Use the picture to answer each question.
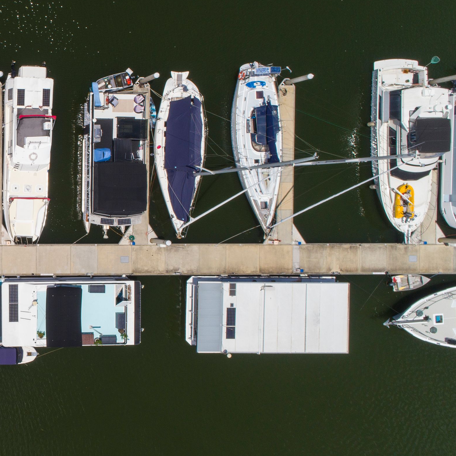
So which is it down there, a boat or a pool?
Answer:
boat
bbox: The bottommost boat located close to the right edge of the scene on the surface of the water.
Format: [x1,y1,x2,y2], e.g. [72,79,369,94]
[383,287,456,347]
